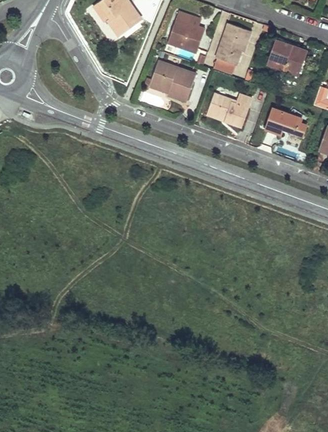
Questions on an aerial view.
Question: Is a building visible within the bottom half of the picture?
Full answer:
No, the scene shows no building within the bottom half of the picture.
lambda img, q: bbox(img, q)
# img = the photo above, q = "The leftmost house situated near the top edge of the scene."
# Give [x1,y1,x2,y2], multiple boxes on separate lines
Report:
[94,0,142,36]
